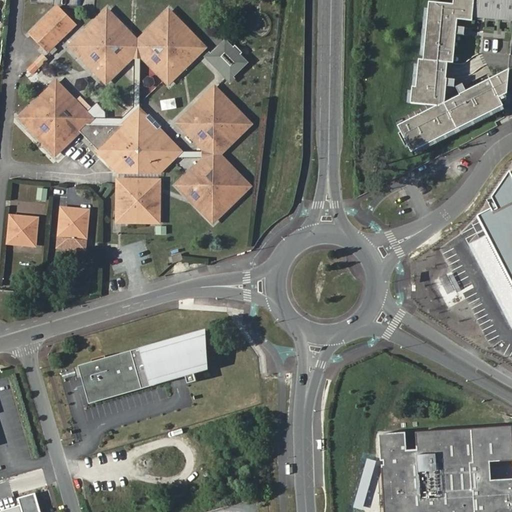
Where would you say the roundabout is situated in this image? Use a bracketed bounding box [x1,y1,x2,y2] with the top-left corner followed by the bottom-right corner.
[243,200,404,368]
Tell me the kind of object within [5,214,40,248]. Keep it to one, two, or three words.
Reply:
house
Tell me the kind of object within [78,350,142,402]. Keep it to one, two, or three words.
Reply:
building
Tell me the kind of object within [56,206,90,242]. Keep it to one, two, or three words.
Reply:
house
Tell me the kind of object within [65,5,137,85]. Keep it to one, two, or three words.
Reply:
building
